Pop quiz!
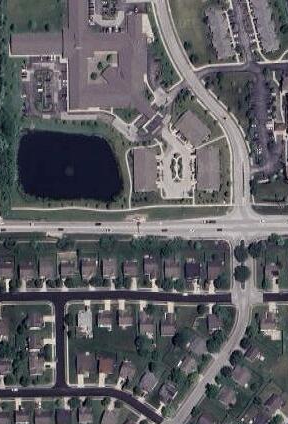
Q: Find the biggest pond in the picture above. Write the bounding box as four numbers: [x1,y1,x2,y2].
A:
[17,129,125,201]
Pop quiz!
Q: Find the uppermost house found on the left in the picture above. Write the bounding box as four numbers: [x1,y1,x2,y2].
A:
[12,0,159,122]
